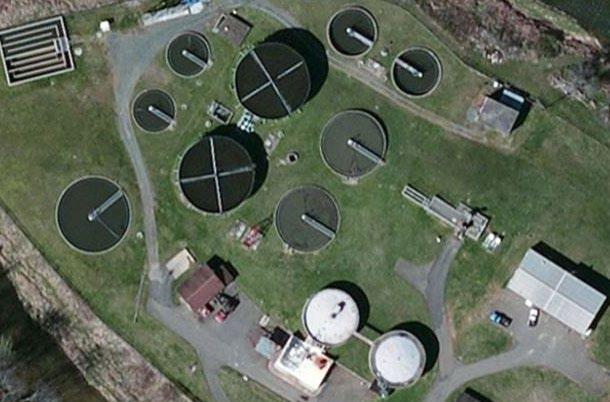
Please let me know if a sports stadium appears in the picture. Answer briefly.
No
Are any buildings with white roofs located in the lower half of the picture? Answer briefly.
Yes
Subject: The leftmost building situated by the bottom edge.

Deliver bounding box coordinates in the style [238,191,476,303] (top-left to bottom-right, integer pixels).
[273,336,333,390]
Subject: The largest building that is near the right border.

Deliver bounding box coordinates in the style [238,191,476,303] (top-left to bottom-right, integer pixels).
[506,248,606,335]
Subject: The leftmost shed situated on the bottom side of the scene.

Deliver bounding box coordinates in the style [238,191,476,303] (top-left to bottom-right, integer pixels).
[178,265,224,313]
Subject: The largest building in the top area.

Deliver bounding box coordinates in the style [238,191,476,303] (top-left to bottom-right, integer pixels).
[476,97,519,133]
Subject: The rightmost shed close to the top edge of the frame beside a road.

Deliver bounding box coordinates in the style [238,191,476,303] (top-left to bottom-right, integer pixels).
[213,13,249,45]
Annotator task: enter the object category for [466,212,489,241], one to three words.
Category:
house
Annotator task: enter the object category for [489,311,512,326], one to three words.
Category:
vehicle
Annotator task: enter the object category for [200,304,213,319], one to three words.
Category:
vehicle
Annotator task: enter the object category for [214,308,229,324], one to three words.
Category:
car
